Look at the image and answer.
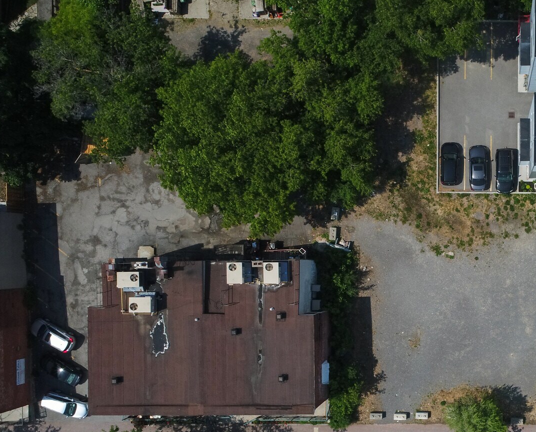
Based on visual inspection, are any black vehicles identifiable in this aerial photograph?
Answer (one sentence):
Yes, a black vehicle can be made out from above.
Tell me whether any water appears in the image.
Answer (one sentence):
No, the scene doesn't show any water.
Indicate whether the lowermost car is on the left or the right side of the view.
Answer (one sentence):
It is on the left.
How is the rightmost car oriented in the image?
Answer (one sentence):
From this overhead view, the rightmost car appears to run up and down.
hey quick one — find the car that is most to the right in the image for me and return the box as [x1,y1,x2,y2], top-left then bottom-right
[494,146,518,193]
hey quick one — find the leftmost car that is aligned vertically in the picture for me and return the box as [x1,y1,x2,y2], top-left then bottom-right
[439,142,462,188]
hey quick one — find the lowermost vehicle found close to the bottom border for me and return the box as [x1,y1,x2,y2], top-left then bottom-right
[39,390,86,419]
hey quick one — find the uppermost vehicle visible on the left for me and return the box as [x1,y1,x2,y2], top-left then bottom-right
[32,318,80,355]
